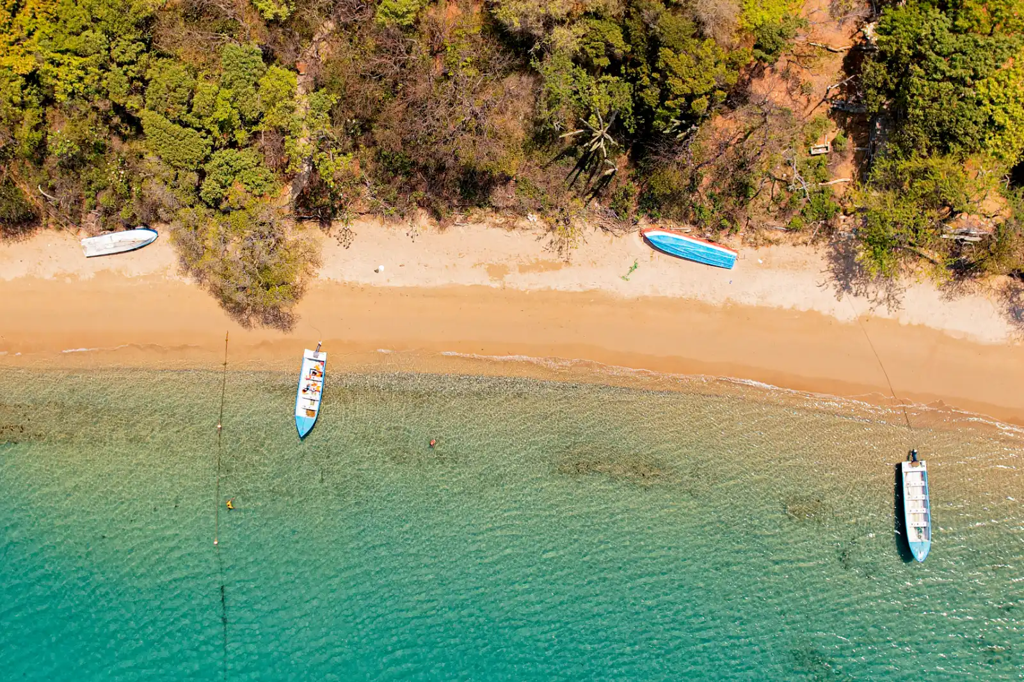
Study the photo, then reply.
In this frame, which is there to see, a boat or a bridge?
boat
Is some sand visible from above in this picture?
Yes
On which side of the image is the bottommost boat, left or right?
right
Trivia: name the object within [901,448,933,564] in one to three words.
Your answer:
boat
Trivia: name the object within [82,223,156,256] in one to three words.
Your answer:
boat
